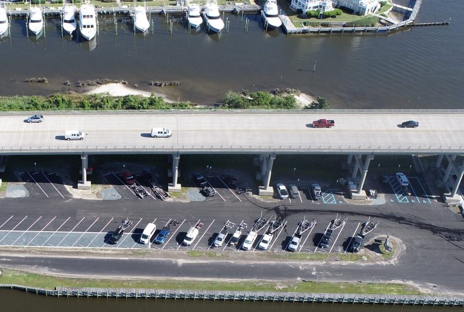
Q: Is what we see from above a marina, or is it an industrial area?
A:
marina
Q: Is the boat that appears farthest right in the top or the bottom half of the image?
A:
top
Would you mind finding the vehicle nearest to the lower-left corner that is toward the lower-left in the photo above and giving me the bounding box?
[110,225,128,244]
